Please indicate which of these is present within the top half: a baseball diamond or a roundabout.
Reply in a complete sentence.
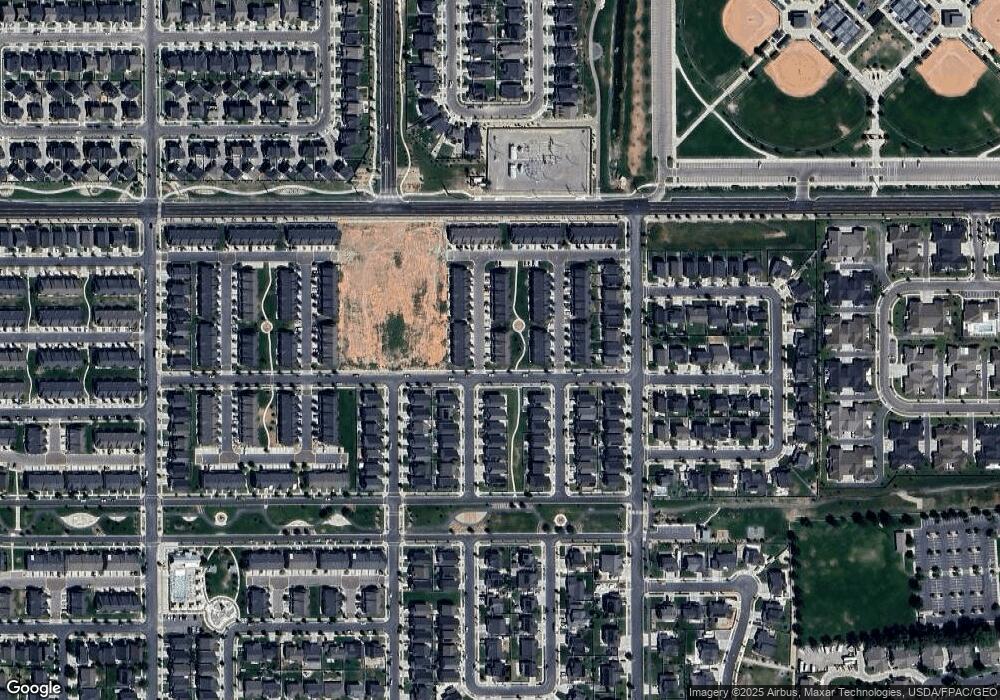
The feature located within the top half is a baseball diamond.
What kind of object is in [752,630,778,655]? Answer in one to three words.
house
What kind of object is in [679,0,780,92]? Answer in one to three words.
baseball field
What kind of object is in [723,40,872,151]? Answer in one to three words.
baseball field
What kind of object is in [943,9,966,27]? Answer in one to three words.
building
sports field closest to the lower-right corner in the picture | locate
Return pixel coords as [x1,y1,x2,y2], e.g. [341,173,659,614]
[796,522,917,640]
